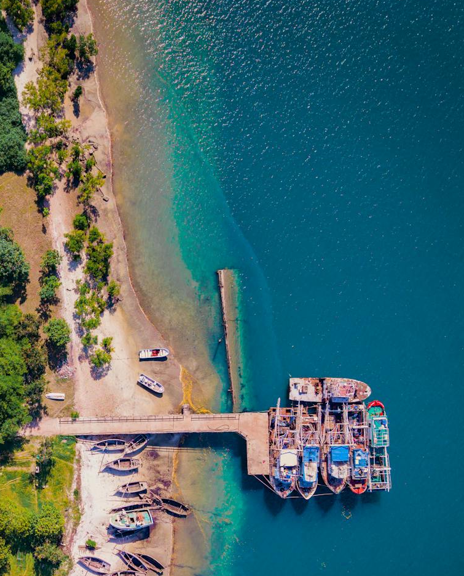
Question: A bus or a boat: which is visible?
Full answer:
Visible in the photo is a boat.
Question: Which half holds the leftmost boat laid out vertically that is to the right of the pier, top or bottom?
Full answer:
The leftmost boat laid out vertically that is to the right of the pier is in the bottom half of the image.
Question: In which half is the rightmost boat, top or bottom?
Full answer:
Seen from above, the rightmost boat lies in the bottom half of the view.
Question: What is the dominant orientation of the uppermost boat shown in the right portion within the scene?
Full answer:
The uppermost boat shown in the right portion is oriented from left to right.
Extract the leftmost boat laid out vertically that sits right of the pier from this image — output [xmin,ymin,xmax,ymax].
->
[269,399,303,498]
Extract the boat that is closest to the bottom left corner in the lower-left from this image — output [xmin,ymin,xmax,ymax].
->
[73,555,111,575]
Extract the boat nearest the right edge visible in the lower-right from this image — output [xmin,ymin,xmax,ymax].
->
[367,400,392,492]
